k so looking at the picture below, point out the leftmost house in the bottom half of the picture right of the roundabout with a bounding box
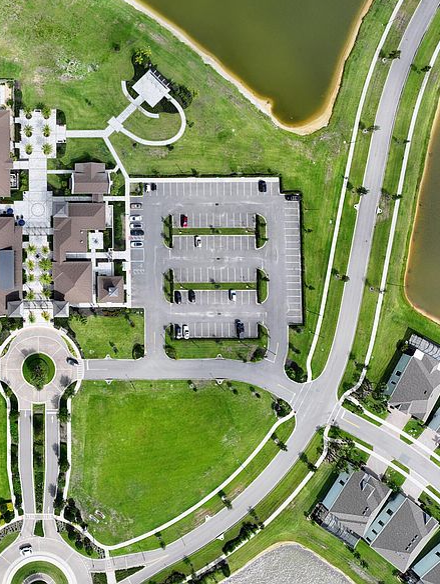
[318,467,391,542]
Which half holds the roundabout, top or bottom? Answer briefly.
bottom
